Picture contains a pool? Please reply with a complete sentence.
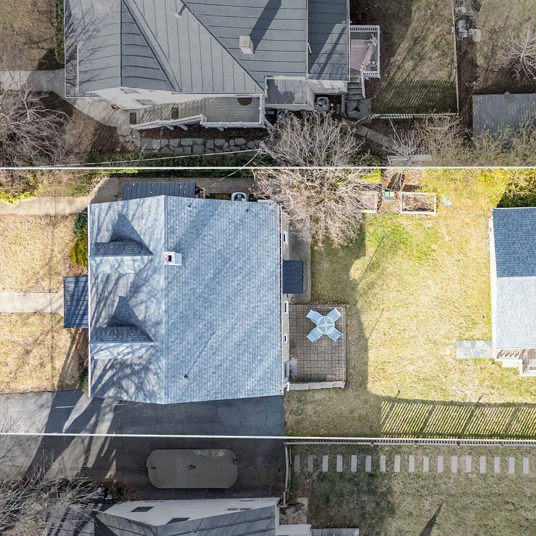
No, no pool can be seen from above.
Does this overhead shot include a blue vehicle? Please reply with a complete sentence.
No, I can't see a single blue vehicle in this photo.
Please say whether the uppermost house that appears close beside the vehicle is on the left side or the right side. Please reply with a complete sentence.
You can find the uppermost house that appears close beside the vehicle on the left side of the picture.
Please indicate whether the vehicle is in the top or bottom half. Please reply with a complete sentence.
You can find the vehicle in the bottom half.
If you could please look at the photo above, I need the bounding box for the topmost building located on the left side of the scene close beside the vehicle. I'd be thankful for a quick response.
[62,181,309,405]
